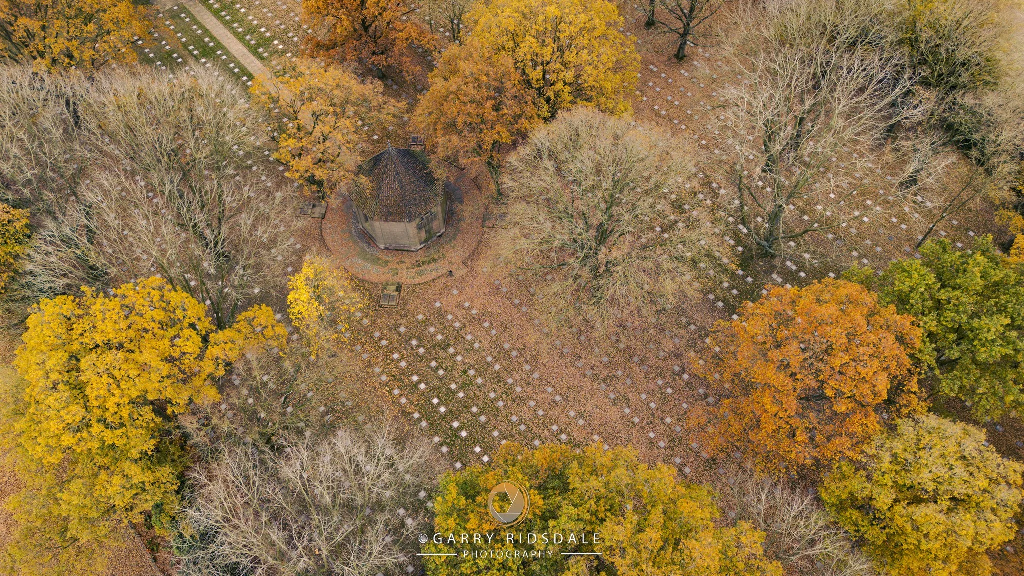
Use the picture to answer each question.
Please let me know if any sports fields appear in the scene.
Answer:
No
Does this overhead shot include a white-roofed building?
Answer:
No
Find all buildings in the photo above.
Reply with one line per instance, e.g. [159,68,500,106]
[347,139,451,252]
